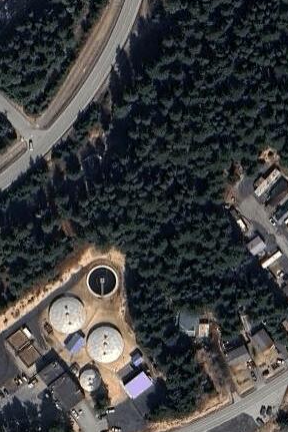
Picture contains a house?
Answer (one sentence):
Yes, the picture does show a house.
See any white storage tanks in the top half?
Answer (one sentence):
No, no white storage tank appears in the top half.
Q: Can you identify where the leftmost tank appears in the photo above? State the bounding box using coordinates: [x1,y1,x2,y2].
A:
[49,295,88,334]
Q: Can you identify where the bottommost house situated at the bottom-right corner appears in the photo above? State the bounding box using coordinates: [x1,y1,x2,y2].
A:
[226,346,252,371]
